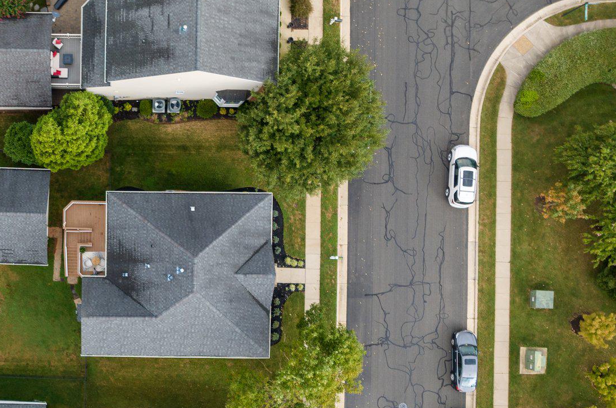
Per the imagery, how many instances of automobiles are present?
two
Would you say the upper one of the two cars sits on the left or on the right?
right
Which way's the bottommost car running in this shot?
from top to bottom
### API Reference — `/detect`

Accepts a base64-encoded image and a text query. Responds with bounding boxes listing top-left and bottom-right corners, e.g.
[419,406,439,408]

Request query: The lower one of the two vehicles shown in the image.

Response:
[449,330,482,393]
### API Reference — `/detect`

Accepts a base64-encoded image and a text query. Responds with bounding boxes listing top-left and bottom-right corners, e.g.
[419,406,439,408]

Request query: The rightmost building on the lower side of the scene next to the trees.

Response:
[74,190,277,359]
